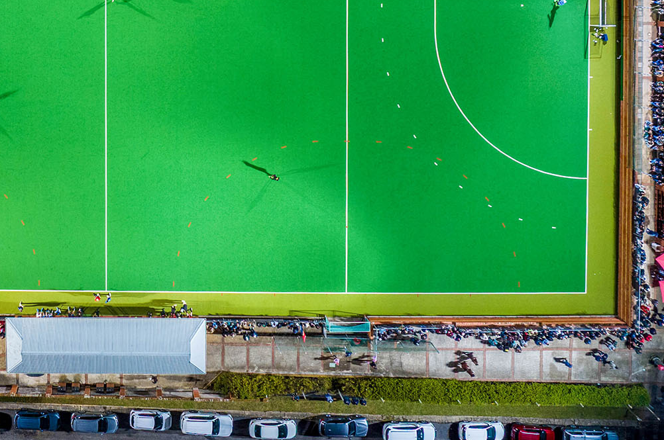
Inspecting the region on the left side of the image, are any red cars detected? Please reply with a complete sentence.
No, no red car is visible on the left side of the image.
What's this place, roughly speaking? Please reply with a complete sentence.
It's a sports ground.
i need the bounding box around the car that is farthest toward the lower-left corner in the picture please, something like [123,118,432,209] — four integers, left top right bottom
[14,406,61,434]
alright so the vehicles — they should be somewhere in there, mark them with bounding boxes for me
[71,410,119,435]
[130,406,172,433]
[457,419,504,440]
[382,419,437,440]
[560,425,620,440]
[14,406,61,434]
[248,416,297,440]
[181,411,233,439]
[317,412,369,440]
[508,421,556,440]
